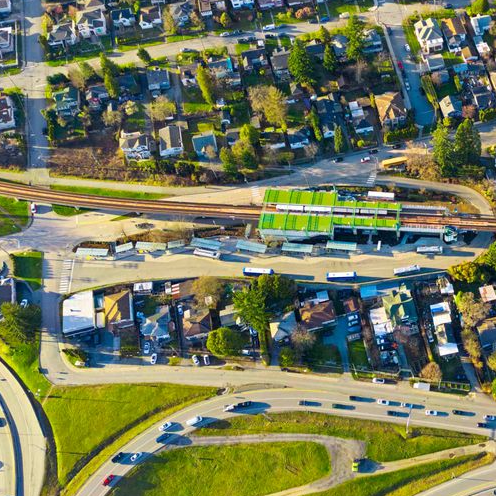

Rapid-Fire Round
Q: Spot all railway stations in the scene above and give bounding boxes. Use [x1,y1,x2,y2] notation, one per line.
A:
[256,189,466,248]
